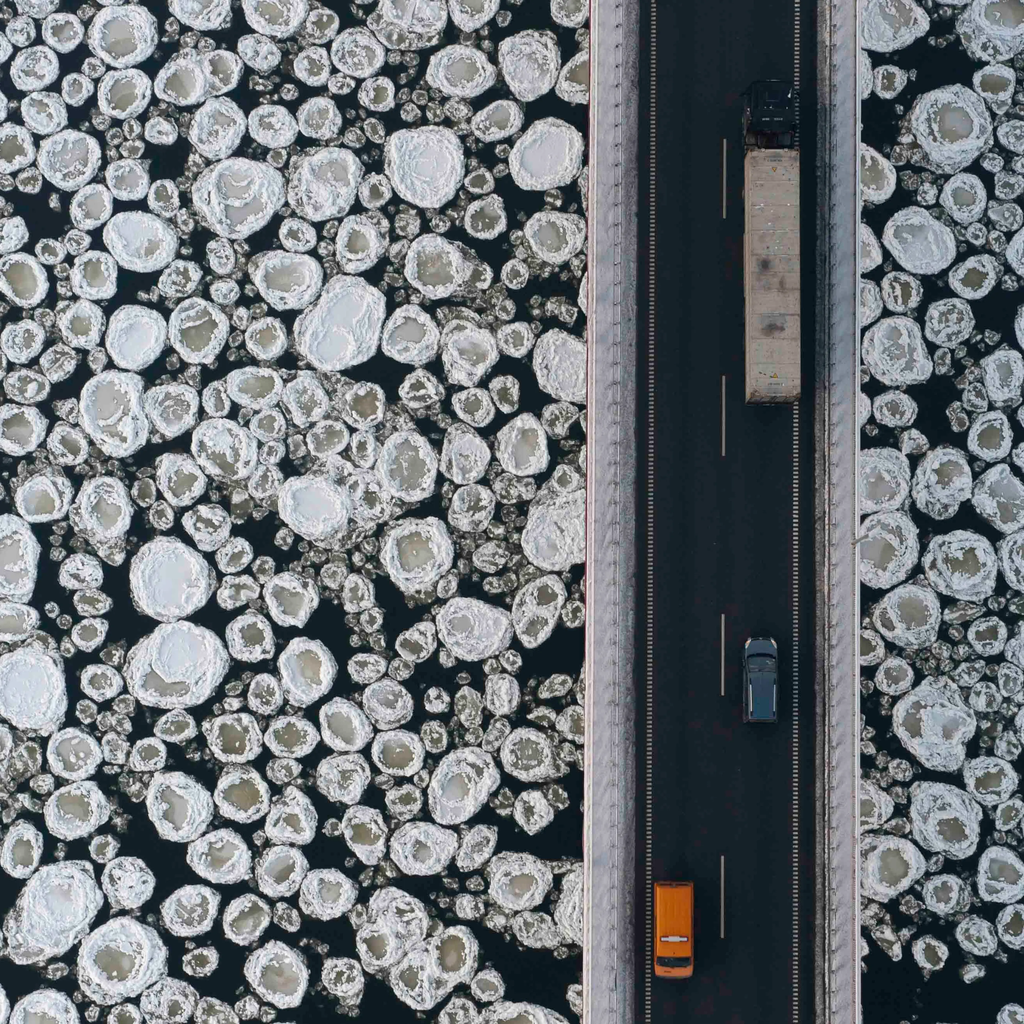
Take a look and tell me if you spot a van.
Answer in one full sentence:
Yes, a van can be made out from above.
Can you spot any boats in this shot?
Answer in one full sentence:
No, no boat is visible in the view.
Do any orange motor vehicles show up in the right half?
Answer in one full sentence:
Yes, an orange motor vehicle can be seen in the right half.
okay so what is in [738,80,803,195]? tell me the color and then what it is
black truck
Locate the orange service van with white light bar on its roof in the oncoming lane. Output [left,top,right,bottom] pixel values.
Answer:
[651,879,698,978]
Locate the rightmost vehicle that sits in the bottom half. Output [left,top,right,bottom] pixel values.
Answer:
[742,637,783,723]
